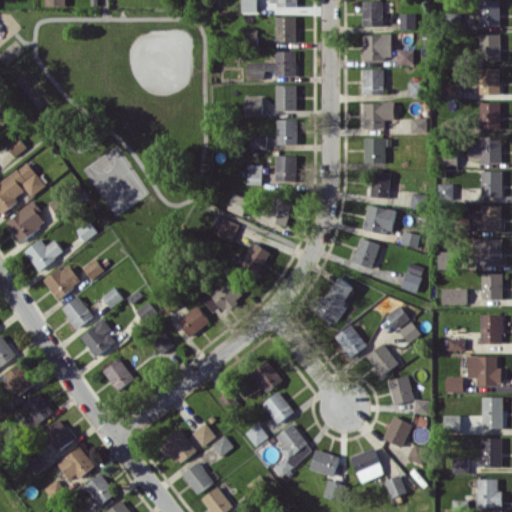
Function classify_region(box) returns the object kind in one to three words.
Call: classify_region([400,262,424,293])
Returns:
building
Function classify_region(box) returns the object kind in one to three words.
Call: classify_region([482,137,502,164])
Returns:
house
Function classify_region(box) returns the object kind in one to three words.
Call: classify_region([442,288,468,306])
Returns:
building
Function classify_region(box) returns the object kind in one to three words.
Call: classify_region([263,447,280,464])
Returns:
swimming pool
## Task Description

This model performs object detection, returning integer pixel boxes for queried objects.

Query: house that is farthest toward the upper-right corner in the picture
[482,3,501,27]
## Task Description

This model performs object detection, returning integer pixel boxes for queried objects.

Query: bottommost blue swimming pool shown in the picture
[25,486,39,500]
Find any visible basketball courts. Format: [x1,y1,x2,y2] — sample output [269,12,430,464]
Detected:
[84,149,149,216]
